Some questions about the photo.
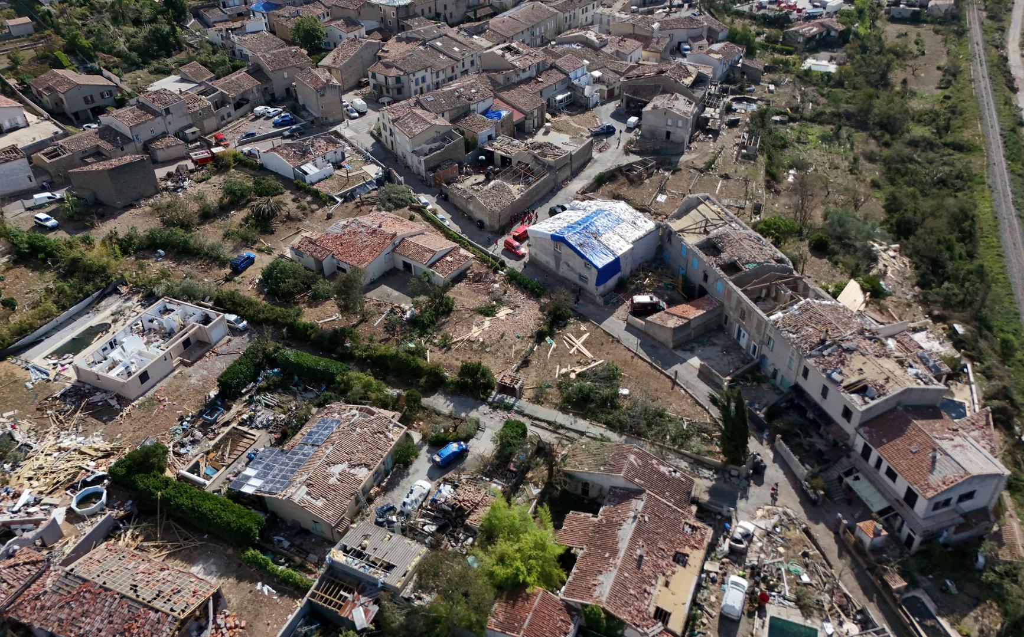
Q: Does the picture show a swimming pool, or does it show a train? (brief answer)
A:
swimming pool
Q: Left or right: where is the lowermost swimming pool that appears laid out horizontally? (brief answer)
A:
right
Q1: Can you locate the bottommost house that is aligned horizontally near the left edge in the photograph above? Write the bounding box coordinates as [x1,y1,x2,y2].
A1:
[6,540,214,637]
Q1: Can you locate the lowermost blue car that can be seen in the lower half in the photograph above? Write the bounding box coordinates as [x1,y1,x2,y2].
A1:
[431,439,469,466]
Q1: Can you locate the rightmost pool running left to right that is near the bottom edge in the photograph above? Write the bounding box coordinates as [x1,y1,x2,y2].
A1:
[764,612,822,637]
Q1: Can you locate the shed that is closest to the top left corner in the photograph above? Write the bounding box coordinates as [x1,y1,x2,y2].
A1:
[4,11,34,34]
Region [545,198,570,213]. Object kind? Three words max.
car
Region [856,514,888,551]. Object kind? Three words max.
shed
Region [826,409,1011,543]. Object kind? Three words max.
house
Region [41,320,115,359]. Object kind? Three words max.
swimming pool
